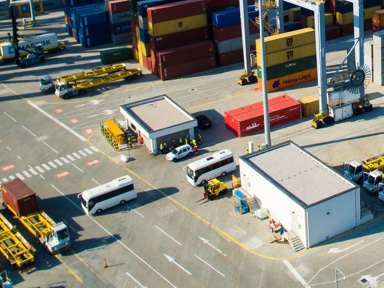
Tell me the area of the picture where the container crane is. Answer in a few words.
top right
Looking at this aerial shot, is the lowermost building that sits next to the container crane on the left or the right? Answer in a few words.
right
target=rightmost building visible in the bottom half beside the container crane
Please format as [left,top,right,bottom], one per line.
[234,137,369,250]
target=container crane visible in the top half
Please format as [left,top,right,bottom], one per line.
[237,0,383,129]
